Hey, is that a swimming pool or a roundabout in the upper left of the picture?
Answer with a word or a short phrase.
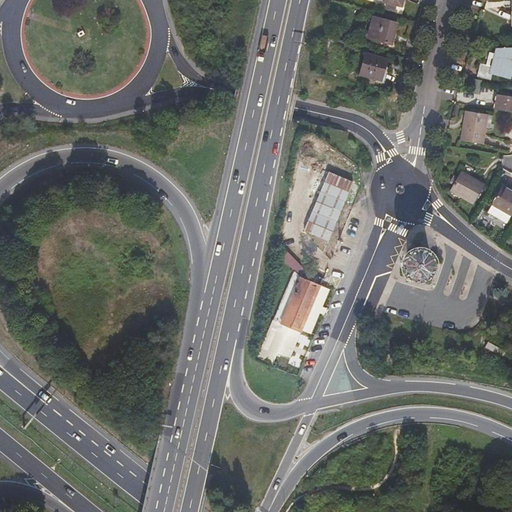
roundabout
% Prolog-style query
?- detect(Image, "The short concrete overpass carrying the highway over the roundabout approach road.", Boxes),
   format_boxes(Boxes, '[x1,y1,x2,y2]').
[232,76,300,131]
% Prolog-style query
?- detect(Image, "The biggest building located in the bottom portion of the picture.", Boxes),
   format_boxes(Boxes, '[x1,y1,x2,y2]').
[258,271,330,367]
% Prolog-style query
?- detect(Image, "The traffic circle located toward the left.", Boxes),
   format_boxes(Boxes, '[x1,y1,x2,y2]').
[2,0,170,118]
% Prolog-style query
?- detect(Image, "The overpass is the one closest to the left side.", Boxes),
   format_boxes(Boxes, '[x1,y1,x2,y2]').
[141,434,220,512]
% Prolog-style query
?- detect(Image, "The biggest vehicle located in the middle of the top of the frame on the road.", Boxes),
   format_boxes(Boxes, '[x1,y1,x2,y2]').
[257,28,270,61]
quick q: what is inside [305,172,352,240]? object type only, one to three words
building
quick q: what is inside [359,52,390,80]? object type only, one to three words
house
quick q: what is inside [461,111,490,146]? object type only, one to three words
house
